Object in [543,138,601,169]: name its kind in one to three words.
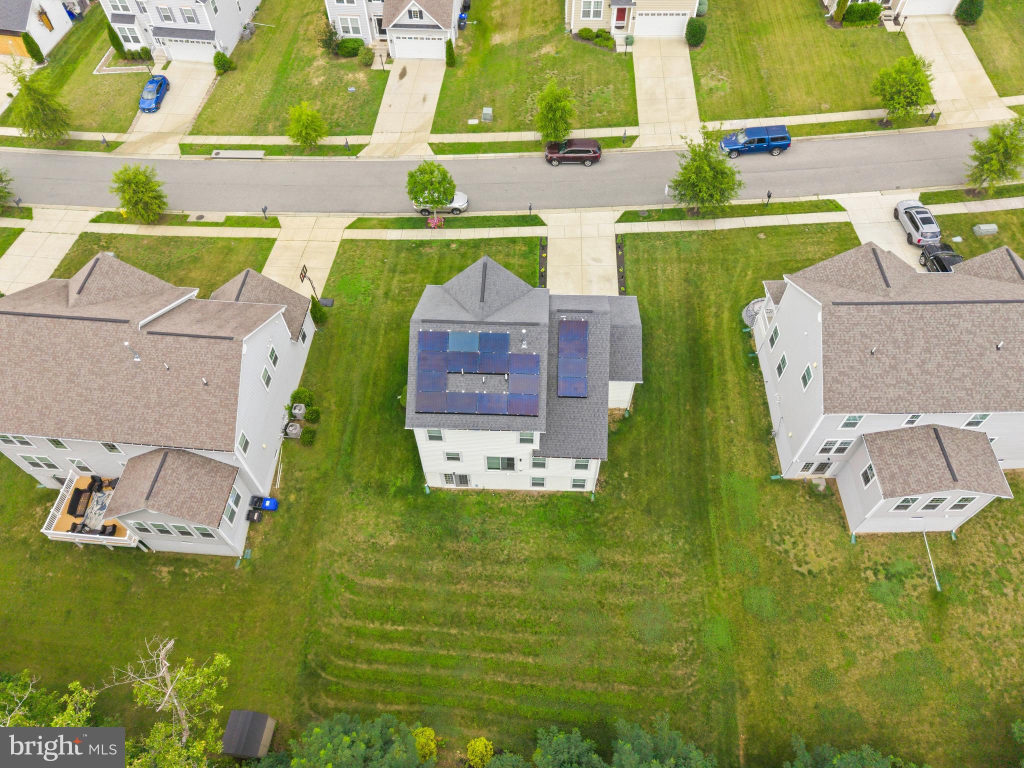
car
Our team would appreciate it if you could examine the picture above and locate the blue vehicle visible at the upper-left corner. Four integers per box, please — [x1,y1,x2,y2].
[137,76,172,112]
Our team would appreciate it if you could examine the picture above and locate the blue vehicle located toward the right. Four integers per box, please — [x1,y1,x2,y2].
[717,126,791,161]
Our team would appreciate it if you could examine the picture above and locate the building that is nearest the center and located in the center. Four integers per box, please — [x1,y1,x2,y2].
[406,255,641,493]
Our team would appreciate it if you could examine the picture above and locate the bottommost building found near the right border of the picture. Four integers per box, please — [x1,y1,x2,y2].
[747,239,1024,535]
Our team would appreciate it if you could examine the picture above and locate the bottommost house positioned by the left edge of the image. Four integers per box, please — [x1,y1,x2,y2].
[0,252,316,560]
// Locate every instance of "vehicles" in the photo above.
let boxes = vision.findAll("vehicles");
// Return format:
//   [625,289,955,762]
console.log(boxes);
[412,193,469,217]
[137,76,172,112]
[717,126,791,161]
[892,200,943,250]
[914,245,958,271]
[543,138,601,169]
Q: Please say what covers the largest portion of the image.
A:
grass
